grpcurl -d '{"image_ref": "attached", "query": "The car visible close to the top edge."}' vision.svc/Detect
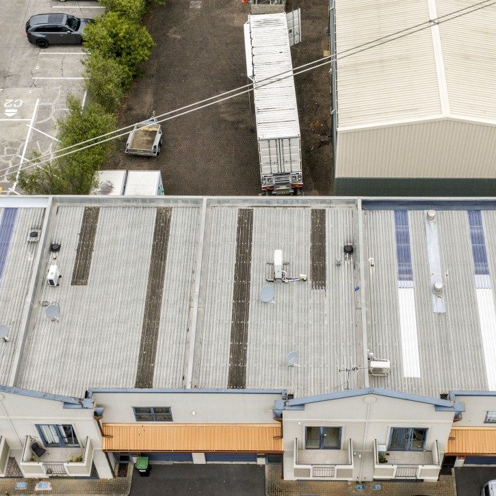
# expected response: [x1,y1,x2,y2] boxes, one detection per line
[26,11,95,43]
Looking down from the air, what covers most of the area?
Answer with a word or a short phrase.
buildings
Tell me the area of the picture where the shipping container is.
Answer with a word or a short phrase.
top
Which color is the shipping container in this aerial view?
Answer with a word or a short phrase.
white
